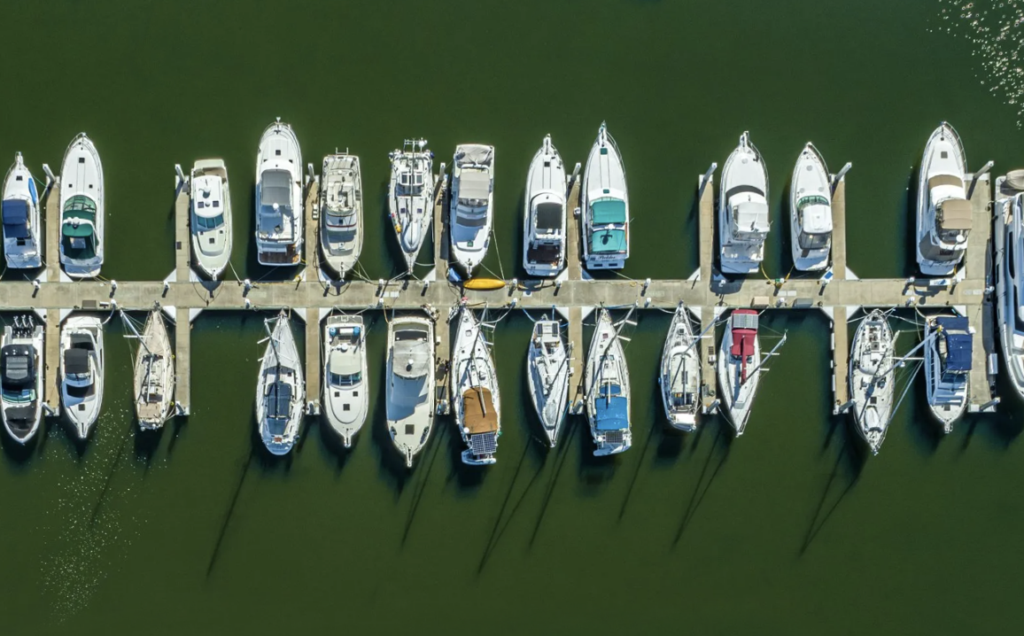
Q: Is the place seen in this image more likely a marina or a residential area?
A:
marina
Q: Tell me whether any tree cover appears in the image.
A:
No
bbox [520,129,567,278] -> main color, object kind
white boat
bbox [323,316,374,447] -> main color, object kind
white boat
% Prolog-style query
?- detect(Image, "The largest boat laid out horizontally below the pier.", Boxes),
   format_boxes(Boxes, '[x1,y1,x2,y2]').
[458,450,498,465]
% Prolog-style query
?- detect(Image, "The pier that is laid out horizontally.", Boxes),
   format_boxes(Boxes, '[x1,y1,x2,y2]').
[0,173,996,416]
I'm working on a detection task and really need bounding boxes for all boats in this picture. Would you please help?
[714,130,771,276]
[447,144,497,281]
[0,316,48,443]
[458,450,498,465]
[2,148,46,271]
[661,300,720,429]
[921,317,974,436]
[188,162,234,284]
[448,302,498,458]
[255,306,305,456]
[911,116,972,277]
[993,178,1024,415]
[720,309,788,438]
[389,137,434,278]
[61,320,109,443]
[788,139,834,275]
[852,312,942,457]
[119,305,174,431]
[323,316,374,447]
[580,119,633,272]
[464,278,506,289]
[318,147,365,281]
[527,315,576,451]
[253,116,304,269]
[1000,170,1024,189]
[586,302,639,457]
[520,129,567,278]
[59,128,109,280]
[385,317,437,470]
